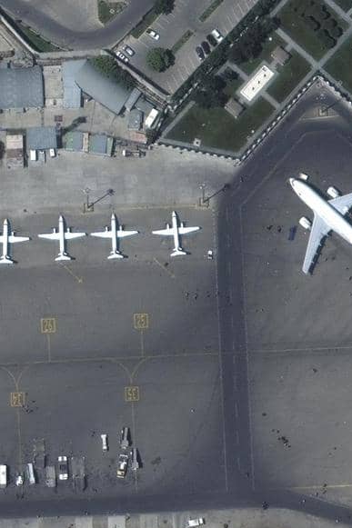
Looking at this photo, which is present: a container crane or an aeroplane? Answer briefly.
aeroplane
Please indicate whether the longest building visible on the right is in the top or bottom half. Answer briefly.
top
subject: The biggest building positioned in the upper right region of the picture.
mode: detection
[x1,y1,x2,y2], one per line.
[240,65,275,102]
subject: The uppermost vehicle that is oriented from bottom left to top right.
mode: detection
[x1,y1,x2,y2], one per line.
[145,108,160,127]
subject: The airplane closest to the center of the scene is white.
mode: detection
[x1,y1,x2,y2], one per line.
[154,212,199,255]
